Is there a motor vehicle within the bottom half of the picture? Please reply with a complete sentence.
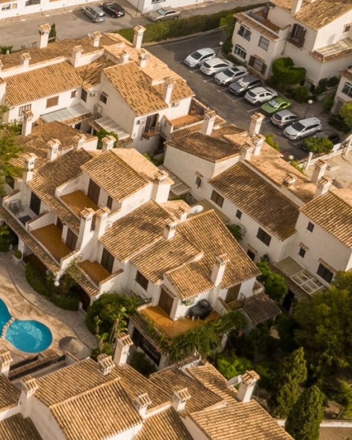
No, no motor vehicle can be made out within the bottom half of the picture.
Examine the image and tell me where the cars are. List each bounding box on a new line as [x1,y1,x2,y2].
[264,108,305,131]
[210,60,254,86]
[196,54,235,78]
[241,86,281,108]
[96,0,134,21]
[255,94,299,116]
[225,71,268,98]
[76,3,114,25]
[280,114,327,143]
[181,46,218,69]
